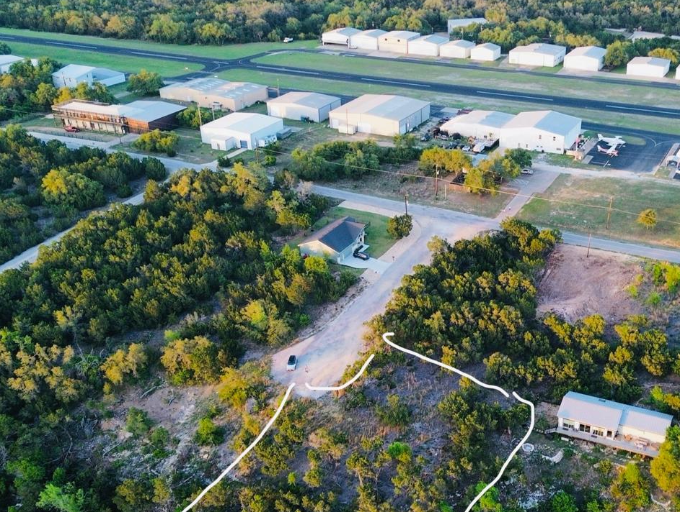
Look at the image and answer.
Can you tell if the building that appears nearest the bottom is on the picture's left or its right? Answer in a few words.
right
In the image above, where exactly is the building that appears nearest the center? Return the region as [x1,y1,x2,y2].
[297,218,379,263]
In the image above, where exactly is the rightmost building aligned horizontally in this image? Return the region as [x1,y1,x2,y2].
[627,55,672,77]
